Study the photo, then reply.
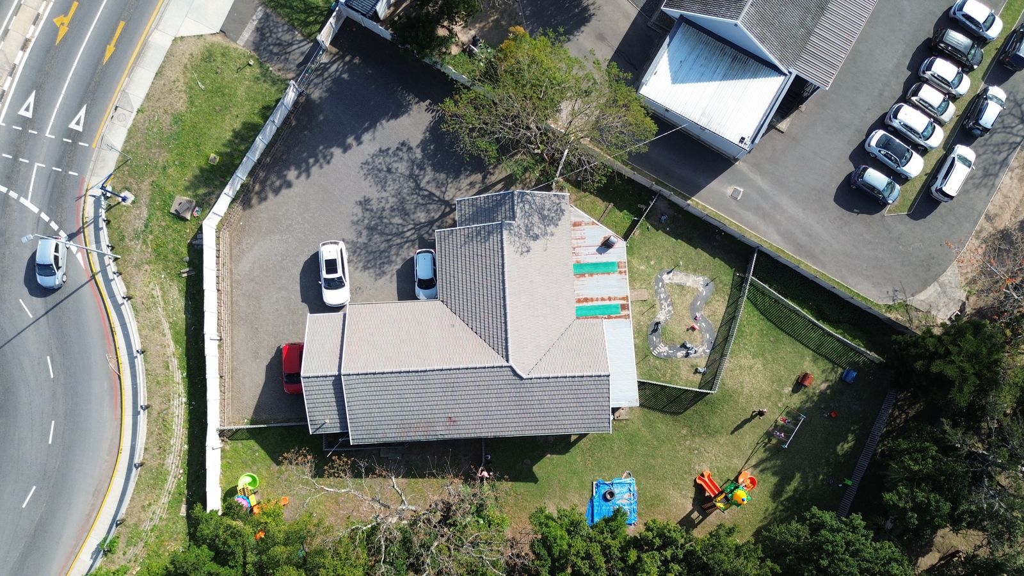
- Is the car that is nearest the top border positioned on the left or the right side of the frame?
right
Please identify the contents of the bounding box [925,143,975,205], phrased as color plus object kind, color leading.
white car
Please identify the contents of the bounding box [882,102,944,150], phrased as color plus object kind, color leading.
white car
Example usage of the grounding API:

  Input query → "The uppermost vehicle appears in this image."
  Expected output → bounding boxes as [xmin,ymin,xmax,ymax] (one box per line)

[944,0,1004,44]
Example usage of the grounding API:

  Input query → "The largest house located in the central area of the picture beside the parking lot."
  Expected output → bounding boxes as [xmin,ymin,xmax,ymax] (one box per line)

[341,190,612,446]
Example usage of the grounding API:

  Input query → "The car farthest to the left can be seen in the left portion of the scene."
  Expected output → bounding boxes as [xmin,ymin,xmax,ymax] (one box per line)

[33,235,74,291]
